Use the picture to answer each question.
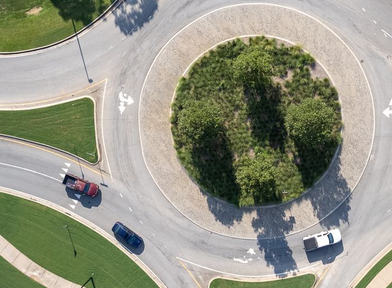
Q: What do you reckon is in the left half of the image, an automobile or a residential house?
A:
automobile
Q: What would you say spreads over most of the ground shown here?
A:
paved ground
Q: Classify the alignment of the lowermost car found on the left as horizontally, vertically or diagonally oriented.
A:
diagonally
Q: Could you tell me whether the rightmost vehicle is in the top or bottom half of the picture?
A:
bottom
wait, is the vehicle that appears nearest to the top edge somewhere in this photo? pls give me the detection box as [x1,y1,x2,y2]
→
[60,172,100,197]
